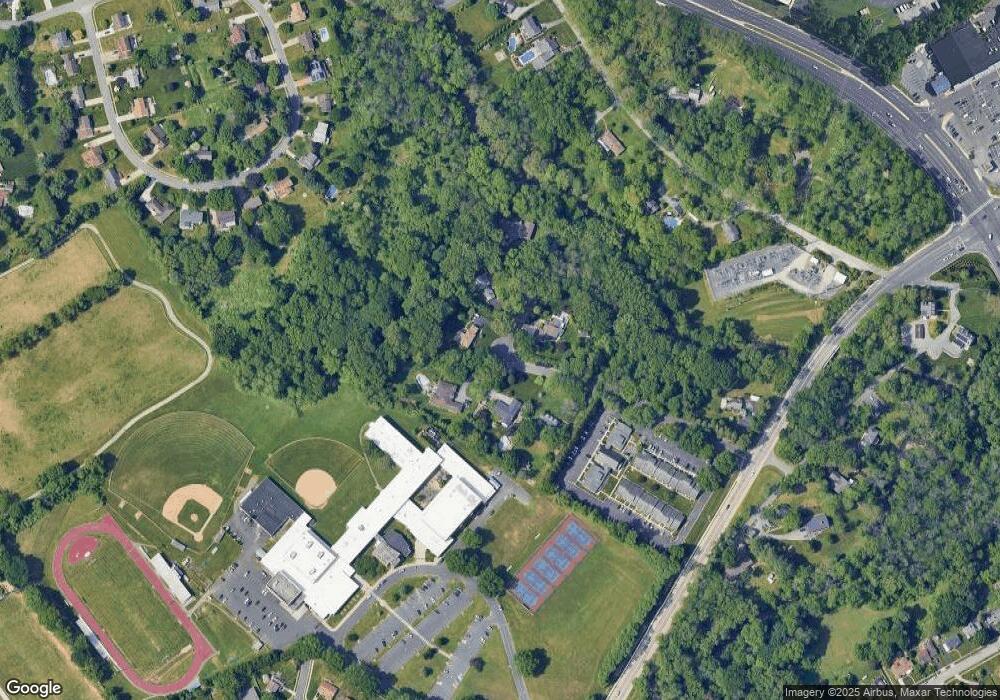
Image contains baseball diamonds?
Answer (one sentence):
Yes, the image includes a baseball diamond.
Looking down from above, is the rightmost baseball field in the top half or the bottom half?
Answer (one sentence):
The rightmost baseball field sits in the bottom half of the picture.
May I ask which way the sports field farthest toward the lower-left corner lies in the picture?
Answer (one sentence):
The sports field farthest toward the lower-left corner is oriented at an angle.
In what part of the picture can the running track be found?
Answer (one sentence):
The running track sits in the bottom left section of the image.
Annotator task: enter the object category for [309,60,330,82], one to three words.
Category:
house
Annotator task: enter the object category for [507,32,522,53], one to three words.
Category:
swimming pool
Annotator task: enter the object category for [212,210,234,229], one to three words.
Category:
house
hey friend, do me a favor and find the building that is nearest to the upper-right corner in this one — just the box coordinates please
[932,21,1000,95]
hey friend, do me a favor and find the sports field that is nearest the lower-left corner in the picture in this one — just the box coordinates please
[61,532,201,690]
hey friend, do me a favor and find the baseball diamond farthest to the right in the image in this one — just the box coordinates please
[266,437,363,510]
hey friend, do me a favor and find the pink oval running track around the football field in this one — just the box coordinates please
[51,509,223,699]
